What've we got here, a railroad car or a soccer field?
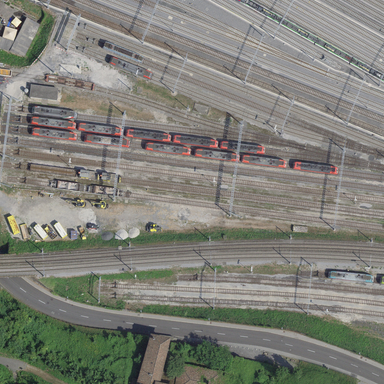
railroad car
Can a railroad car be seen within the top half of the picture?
Yes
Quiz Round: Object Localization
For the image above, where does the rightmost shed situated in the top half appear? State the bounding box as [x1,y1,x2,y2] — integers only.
[30,82,58,100]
